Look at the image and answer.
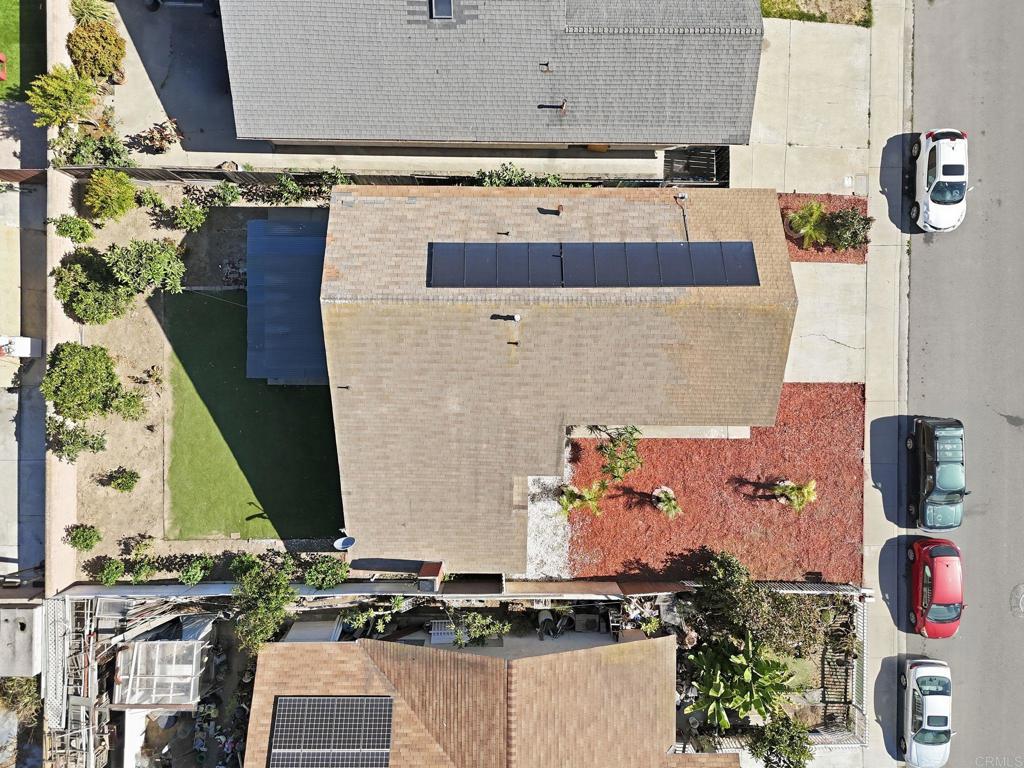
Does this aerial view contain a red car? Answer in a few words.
Yes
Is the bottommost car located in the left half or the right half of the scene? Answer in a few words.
right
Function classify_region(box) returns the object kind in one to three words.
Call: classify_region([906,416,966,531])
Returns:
car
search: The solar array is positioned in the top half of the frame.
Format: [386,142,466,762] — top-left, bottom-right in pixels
[431,243,759,290]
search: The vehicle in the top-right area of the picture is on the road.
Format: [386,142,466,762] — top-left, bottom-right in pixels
[911,129,974,234]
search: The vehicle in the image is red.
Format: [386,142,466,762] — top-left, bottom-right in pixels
[908,535,968,637]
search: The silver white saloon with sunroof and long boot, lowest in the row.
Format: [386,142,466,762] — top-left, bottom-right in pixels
[899,653,958,768]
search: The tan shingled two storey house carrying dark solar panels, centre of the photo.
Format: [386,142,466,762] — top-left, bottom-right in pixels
[319,185,798,590]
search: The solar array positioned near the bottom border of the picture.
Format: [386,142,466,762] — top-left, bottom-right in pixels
[265,696,391,768]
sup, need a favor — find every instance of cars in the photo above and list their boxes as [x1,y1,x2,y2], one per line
[911,129,974,234]
[899,653,958,768]
[908,535,968,637]
[906,416,966,531]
